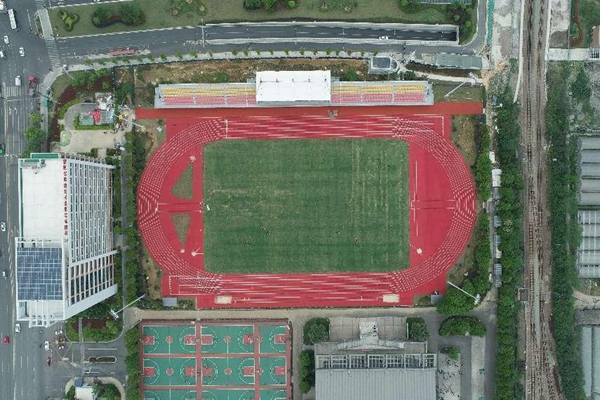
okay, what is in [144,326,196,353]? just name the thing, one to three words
basketball court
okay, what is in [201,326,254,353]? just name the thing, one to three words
basketball court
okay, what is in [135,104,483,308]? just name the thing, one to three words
running track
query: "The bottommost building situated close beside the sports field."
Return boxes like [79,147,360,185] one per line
[315,322,437,400]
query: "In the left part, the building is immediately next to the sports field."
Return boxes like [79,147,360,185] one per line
[15,153,119,329]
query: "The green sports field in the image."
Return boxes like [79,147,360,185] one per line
[203,139,410,273]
